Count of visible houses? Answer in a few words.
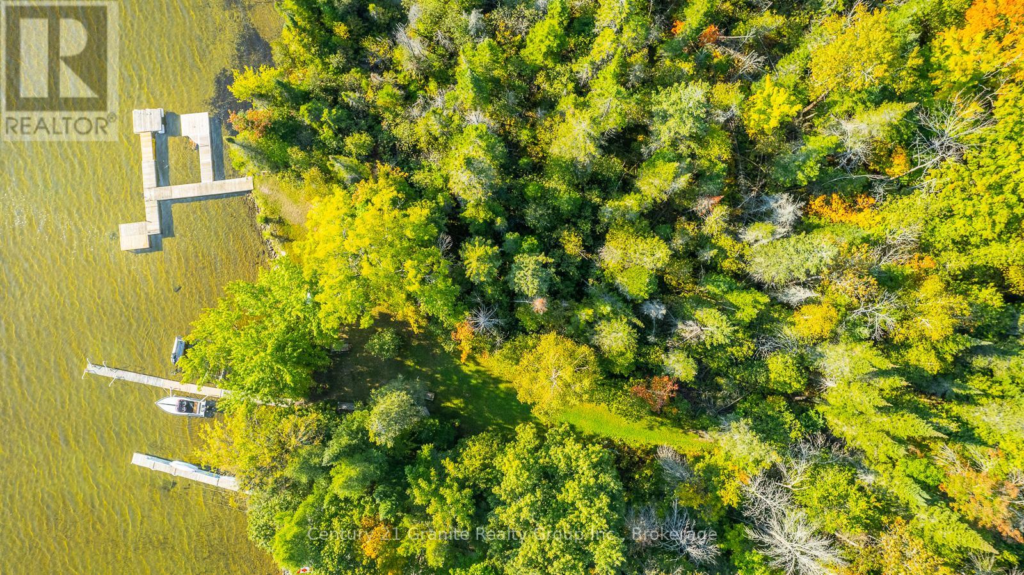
none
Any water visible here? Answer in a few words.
Yes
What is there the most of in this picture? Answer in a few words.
trees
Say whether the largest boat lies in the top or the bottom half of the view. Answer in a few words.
bottom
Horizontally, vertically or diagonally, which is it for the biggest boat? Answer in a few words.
horizontally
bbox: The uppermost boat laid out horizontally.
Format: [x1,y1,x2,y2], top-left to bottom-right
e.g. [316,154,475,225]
[153,398,214,418]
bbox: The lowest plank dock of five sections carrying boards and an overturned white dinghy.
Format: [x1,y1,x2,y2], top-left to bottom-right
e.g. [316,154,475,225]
[132,453,249,493]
